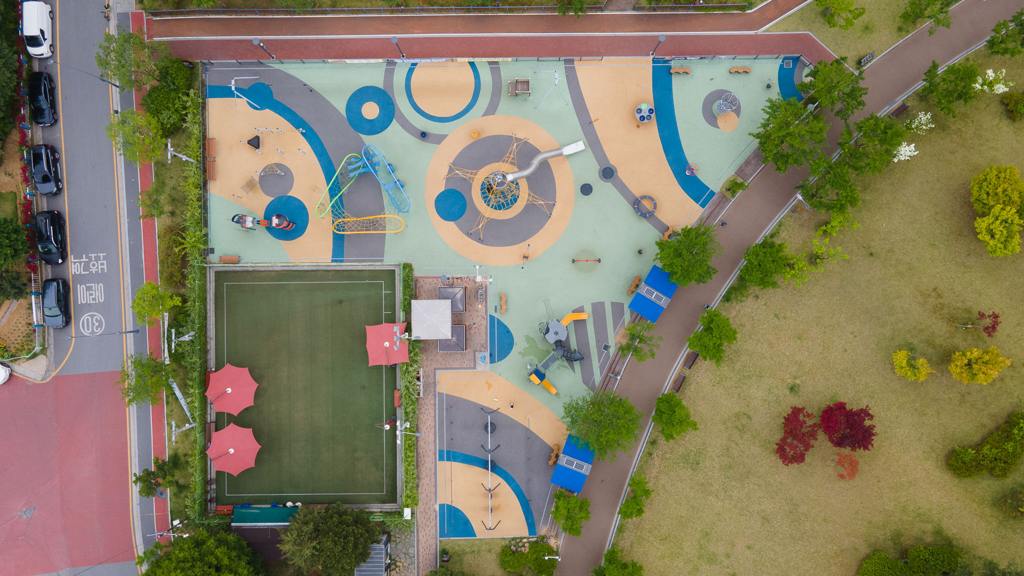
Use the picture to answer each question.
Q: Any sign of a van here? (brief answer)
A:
Yes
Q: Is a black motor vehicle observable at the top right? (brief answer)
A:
No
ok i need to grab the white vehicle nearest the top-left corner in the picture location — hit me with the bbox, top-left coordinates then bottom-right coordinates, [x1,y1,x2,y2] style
[19,1,53,59]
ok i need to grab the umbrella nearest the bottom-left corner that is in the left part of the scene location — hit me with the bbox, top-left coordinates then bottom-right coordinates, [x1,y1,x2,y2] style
[203,423,262,476]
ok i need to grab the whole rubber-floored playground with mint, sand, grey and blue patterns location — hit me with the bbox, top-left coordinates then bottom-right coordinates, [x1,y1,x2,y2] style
[206,57,815,539]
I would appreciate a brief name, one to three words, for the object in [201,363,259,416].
umbrella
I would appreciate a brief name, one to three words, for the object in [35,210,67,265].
car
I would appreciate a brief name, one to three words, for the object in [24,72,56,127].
car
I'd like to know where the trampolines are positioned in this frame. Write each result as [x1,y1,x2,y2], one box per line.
[602,166,615,179]
[580,183,593,196]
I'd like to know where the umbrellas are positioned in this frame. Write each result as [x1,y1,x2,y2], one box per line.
[203,423,262,476]
[375,416,397,430]
[201,363,259,416]
[366,322,409,368]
